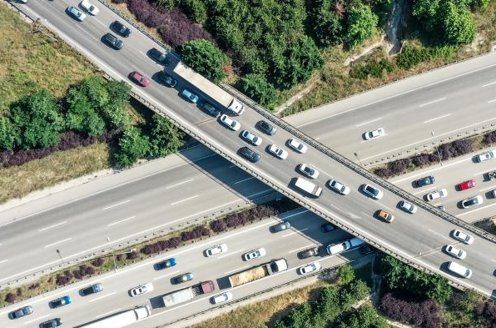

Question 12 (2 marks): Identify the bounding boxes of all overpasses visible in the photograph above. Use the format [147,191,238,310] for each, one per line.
[90,16,489,287]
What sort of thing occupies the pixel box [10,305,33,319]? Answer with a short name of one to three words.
vehicle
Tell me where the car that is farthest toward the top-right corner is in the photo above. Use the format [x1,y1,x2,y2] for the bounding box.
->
[475,150,496,163]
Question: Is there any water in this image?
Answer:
No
